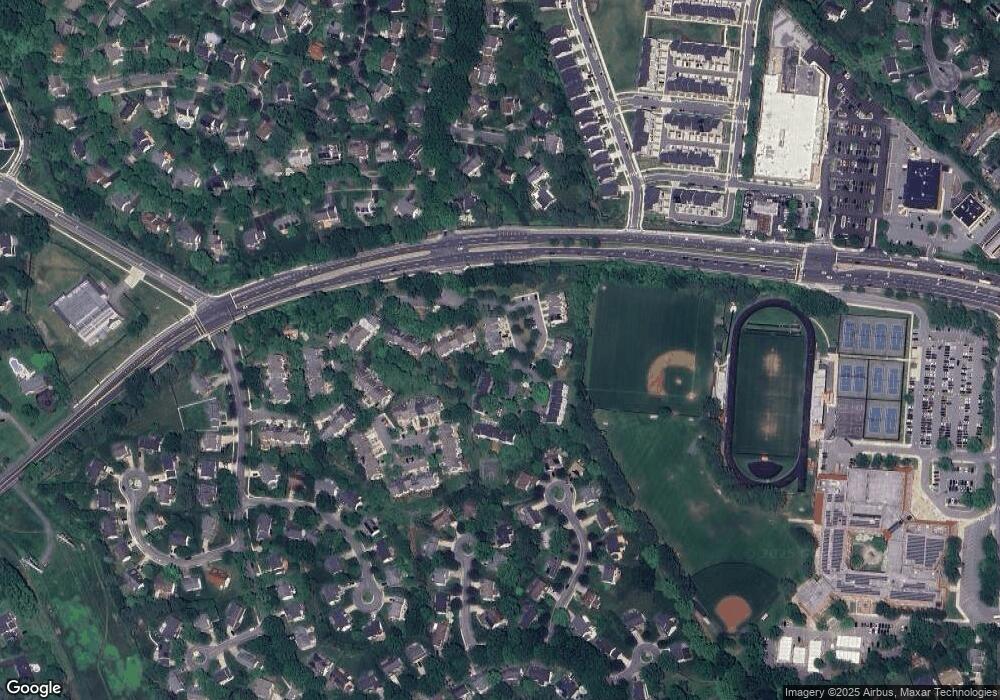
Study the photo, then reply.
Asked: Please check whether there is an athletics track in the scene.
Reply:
Yes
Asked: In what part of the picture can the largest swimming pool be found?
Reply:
left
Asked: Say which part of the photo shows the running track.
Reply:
right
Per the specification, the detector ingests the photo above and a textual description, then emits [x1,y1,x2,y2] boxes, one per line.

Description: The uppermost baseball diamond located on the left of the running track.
[590,287,718,418]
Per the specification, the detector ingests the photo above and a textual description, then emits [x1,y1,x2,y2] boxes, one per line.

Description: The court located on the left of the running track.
[479,457,500,483]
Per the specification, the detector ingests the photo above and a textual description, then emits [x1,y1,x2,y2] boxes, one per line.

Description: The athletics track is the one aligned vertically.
[725,296,816,491]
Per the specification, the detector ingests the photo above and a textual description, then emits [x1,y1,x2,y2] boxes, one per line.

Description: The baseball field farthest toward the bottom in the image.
[691,562,780,638]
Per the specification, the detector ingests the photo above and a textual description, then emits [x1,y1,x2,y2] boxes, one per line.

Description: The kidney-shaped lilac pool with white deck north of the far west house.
[10,357,35,379]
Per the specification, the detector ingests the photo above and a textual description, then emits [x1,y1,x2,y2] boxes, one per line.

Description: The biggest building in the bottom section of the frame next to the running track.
[801,467,957,615]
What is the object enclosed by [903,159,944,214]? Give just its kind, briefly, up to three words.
building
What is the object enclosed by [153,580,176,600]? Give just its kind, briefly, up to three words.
house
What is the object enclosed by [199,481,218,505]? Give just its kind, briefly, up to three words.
house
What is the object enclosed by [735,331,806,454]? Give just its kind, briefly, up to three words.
soccer field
